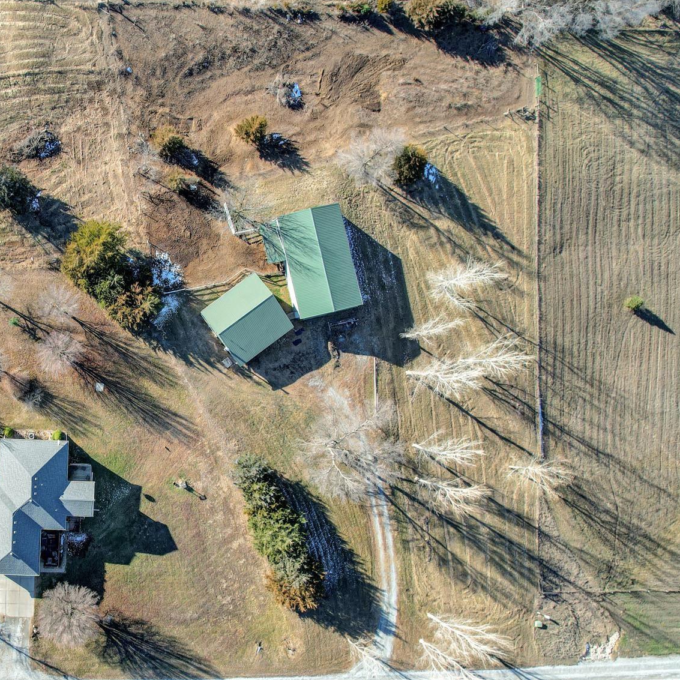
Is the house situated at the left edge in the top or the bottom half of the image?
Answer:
bottom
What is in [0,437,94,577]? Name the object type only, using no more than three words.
house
